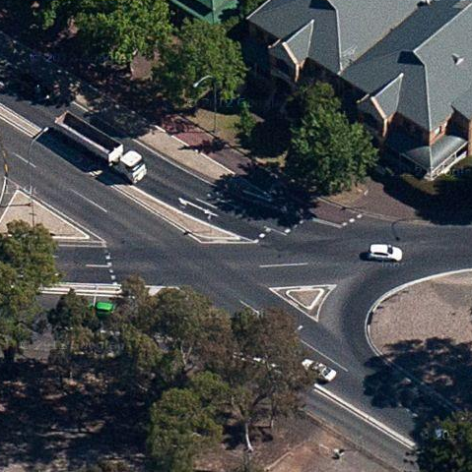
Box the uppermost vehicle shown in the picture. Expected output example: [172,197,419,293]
[55,109,140,178]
